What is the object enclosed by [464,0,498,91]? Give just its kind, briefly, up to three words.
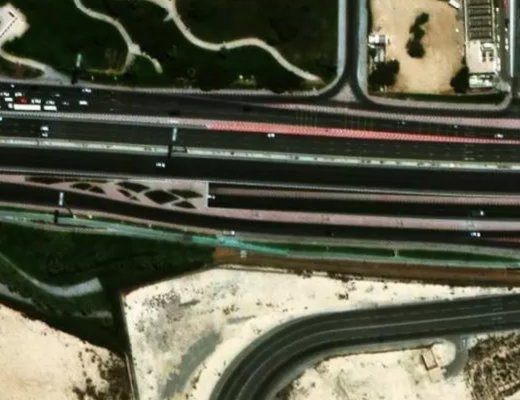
building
